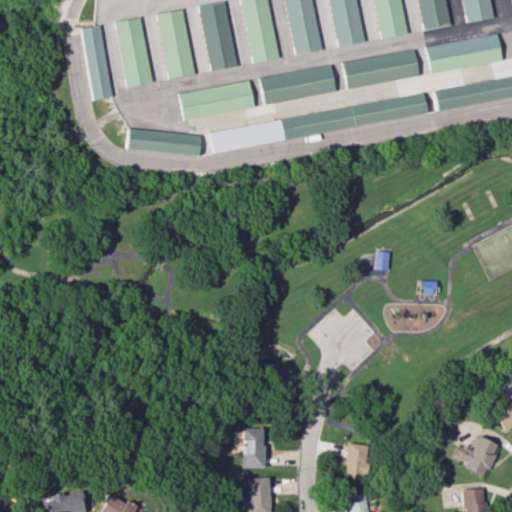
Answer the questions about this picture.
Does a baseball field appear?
No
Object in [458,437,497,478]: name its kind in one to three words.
house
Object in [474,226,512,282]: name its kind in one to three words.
sports court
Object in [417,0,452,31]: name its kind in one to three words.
building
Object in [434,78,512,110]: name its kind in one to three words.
building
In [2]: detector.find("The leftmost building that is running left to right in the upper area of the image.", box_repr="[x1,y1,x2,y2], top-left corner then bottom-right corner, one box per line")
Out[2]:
[128,129,202,155]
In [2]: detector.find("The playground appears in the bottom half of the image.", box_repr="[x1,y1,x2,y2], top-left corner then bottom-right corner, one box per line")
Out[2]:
[383,303,444,333]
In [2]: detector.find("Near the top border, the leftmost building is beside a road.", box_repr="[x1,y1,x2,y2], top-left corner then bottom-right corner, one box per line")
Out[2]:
[82,25,114,100]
